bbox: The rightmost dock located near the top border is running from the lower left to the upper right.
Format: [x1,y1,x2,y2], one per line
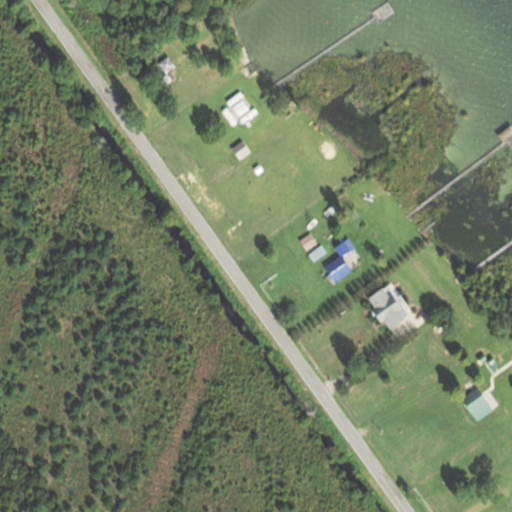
[274,3,394,85]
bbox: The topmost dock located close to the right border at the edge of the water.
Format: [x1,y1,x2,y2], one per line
[406,140,512,218]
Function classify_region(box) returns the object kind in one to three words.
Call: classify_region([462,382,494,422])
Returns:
house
